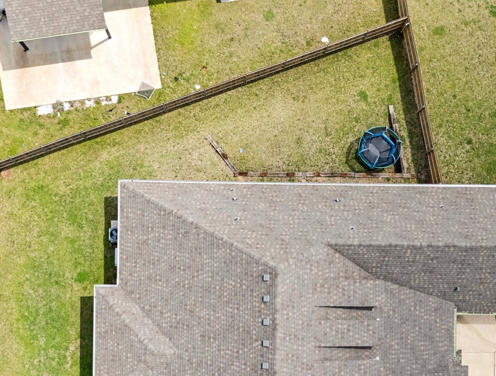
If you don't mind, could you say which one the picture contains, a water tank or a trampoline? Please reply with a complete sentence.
Visible in the photo is a trampoline.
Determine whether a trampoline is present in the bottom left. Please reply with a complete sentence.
No, I can find no trampoline in the bottom left.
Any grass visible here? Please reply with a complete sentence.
Yes, grass can be seen from above here.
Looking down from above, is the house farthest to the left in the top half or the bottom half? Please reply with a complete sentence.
The top half of the photo is where the house farthest to the left is.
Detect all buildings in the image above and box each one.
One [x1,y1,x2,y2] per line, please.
[3,0,112,53]
[91,177,496,376]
